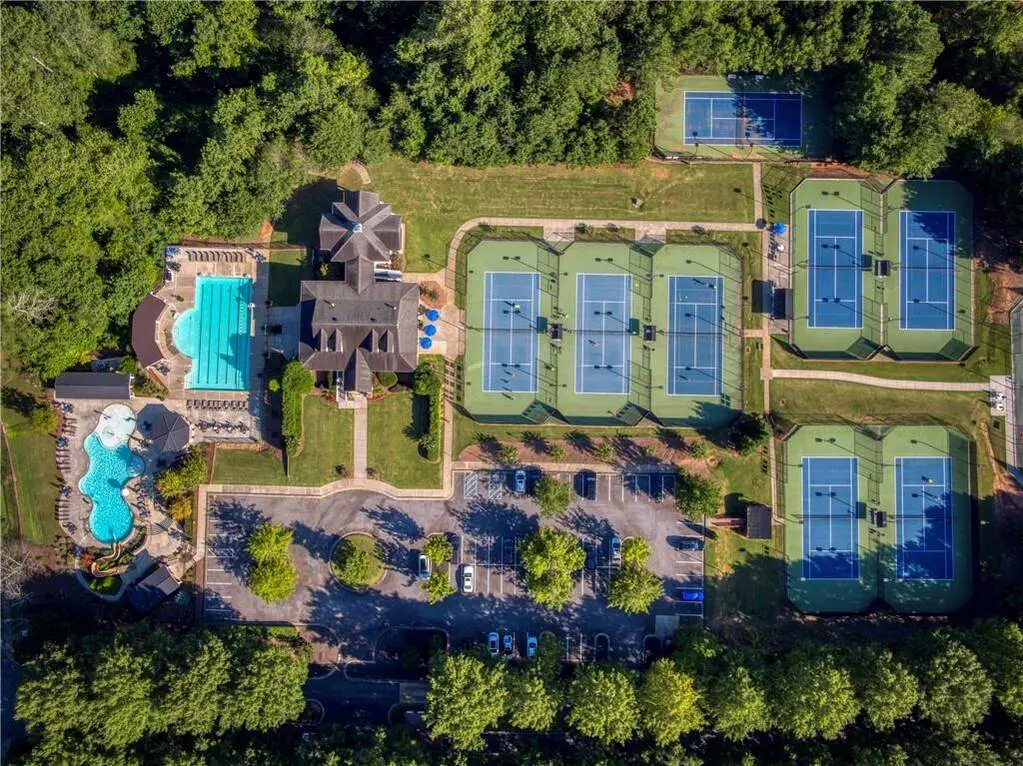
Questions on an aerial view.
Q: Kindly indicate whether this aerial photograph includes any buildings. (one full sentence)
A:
Yes, looking at the shot, I can spot a building.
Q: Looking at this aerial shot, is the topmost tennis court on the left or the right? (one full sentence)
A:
The topmost tennis court is on the right side of the image.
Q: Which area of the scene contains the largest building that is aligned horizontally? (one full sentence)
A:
The largest building that is aligned horizontally appears toward the left of the photo.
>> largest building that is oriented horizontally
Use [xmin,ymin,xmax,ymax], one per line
[50,374,135,399]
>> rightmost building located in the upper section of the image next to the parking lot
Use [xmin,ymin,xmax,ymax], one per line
[300,191,419,392]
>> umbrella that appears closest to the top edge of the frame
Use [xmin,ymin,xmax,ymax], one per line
[772,222,786,236]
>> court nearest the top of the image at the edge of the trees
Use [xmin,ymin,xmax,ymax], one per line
[654,76,834,160]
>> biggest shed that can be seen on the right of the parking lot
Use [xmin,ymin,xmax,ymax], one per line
[744,506,771,539]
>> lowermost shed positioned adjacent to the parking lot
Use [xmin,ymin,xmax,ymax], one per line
[126,565,186,613]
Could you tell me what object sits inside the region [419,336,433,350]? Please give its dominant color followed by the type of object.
blue umbrella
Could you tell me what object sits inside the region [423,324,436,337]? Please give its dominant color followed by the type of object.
blue umbrella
